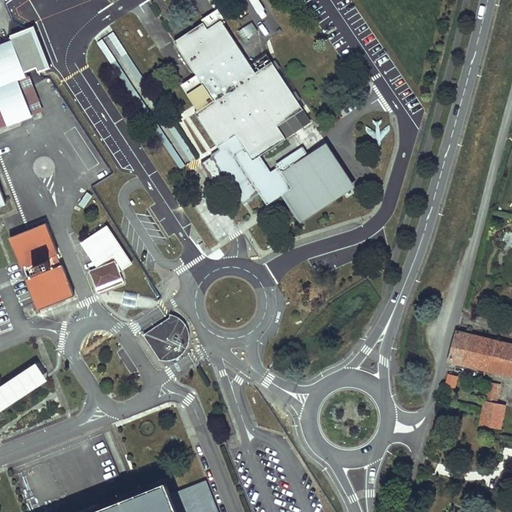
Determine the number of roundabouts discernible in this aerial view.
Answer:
2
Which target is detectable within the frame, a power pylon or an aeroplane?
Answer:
aeroplane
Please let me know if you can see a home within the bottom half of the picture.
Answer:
Yes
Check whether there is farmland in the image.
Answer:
No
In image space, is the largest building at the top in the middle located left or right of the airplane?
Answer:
to the left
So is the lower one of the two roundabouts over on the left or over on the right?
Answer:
right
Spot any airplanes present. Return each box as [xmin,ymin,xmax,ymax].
[366,116,390,145]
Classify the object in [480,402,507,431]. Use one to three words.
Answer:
house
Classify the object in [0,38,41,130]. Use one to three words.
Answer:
building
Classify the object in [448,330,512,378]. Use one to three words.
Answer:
barn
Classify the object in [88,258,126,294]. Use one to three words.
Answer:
house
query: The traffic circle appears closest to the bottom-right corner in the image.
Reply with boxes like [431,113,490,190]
[300,370,398,468]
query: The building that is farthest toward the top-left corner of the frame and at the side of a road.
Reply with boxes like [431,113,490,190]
[9,24,50,76]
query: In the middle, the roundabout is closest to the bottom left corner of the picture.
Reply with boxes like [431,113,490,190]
[186,256,278,348]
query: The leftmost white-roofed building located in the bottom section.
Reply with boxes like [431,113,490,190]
[0,363,47,410]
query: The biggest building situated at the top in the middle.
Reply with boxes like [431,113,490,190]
[175,9,311,204]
